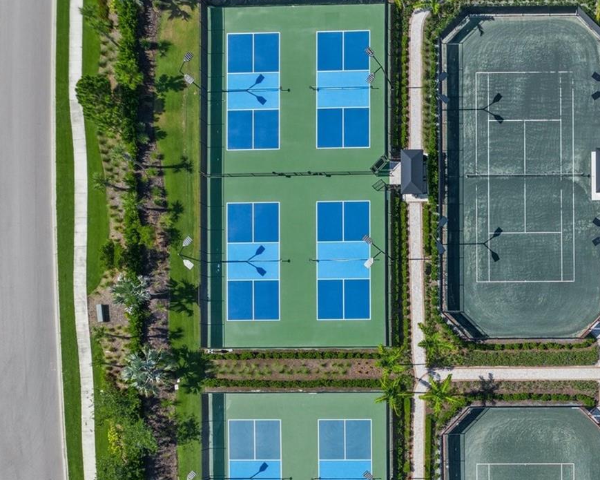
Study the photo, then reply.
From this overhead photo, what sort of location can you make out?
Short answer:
sports ground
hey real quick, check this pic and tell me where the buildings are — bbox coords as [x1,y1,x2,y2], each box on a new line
[591,148,600,201]
[400,150,424,196]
